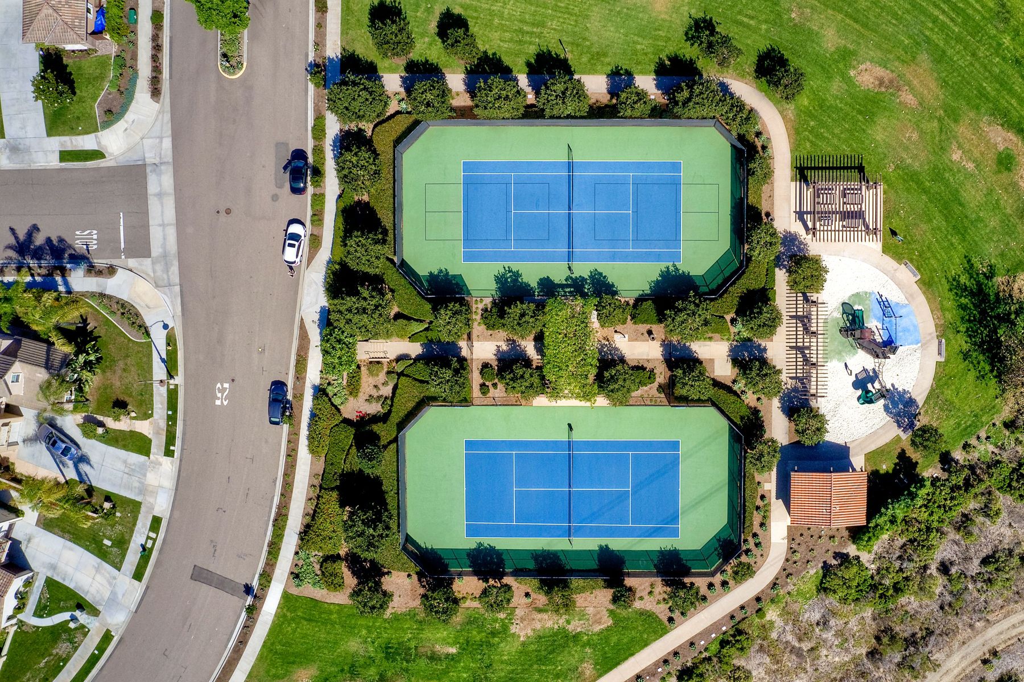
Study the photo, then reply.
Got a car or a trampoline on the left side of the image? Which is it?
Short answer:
car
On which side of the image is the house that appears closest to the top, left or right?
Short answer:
left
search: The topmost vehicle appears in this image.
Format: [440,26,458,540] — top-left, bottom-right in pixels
[281,149,309,194]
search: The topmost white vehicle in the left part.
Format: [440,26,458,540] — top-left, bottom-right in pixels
[282,219,307,264]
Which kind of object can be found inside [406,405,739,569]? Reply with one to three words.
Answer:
tennis court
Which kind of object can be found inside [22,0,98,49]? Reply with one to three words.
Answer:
house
